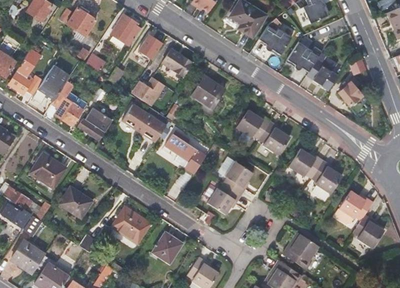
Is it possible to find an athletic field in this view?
No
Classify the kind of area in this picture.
residential area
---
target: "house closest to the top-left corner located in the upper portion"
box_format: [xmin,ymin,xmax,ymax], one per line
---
[24,0,56,30]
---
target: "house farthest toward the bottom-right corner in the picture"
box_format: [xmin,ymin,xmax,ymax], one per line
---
[352,216,386,248]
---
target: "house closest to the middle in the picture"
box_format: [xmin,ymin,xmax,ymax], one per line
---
[163,124,208,168]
